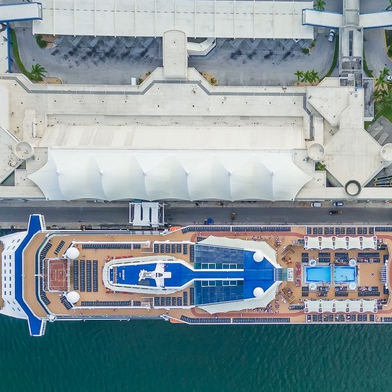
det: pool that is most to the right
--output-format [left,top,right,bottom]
[334,266,356,282]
